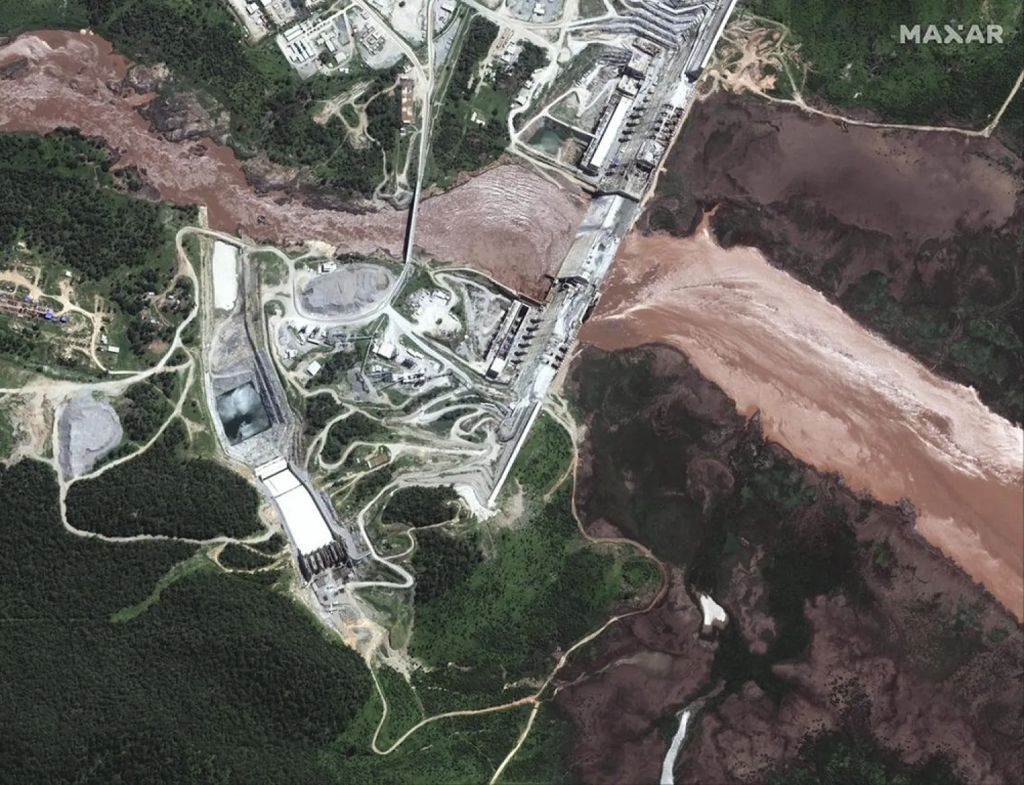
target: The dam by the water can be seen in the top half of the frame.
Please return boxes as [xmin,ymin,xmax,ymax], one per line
[488,0,735,506]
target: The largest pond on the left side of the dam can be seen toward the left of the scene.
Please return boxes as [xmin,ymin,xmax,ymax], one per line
[216,382,271,445]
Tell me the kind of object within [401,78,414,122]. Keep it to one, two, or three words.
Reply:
building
